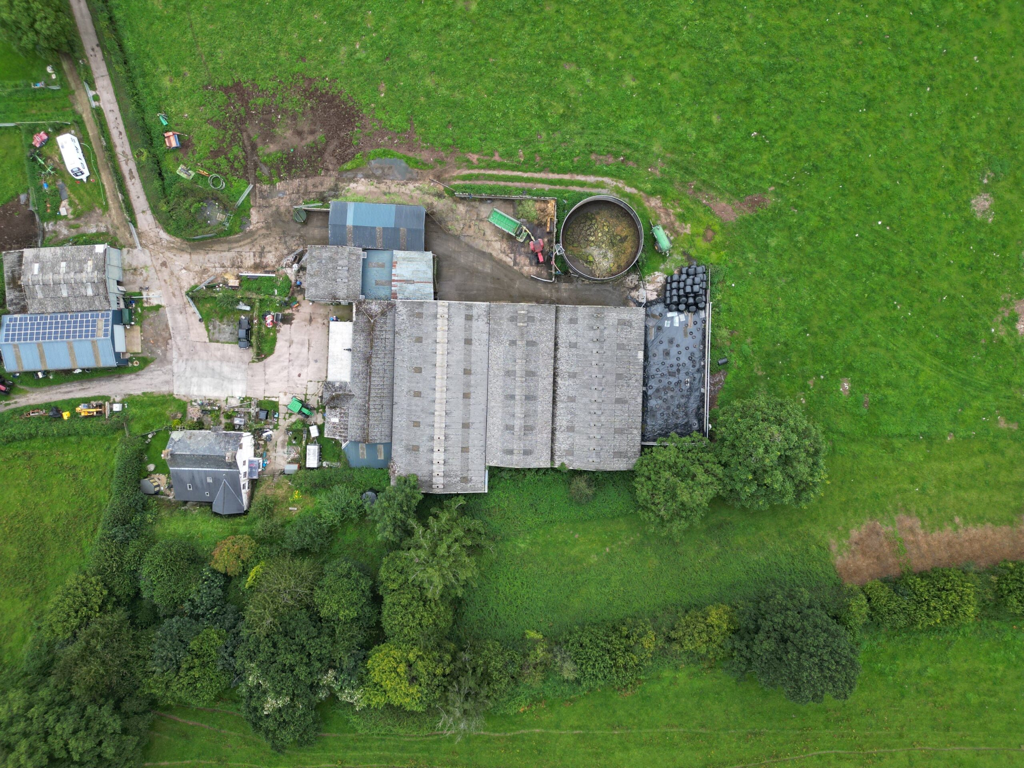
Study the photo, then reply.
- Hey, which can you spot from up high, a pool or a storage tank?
storage tank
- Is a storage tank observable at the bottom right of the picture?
No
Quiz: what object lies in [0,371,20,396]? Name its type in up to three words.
work vehicle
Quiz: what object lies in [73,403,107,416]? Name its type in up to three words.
vehicle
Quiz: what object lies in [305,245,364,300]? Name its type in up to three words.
shed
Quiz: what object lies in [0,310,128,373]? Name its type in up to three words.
barn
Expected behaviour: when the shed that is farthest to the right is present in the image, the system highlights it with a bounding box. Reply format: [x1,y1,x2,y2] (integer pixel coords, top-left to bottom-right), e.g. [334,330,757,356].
[550,305,645,470]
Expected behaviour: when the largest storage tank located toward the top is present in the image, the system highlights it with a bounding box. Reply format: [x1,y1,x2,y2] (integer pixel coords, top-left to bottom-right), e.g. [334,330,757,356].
[555,195,644,282]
